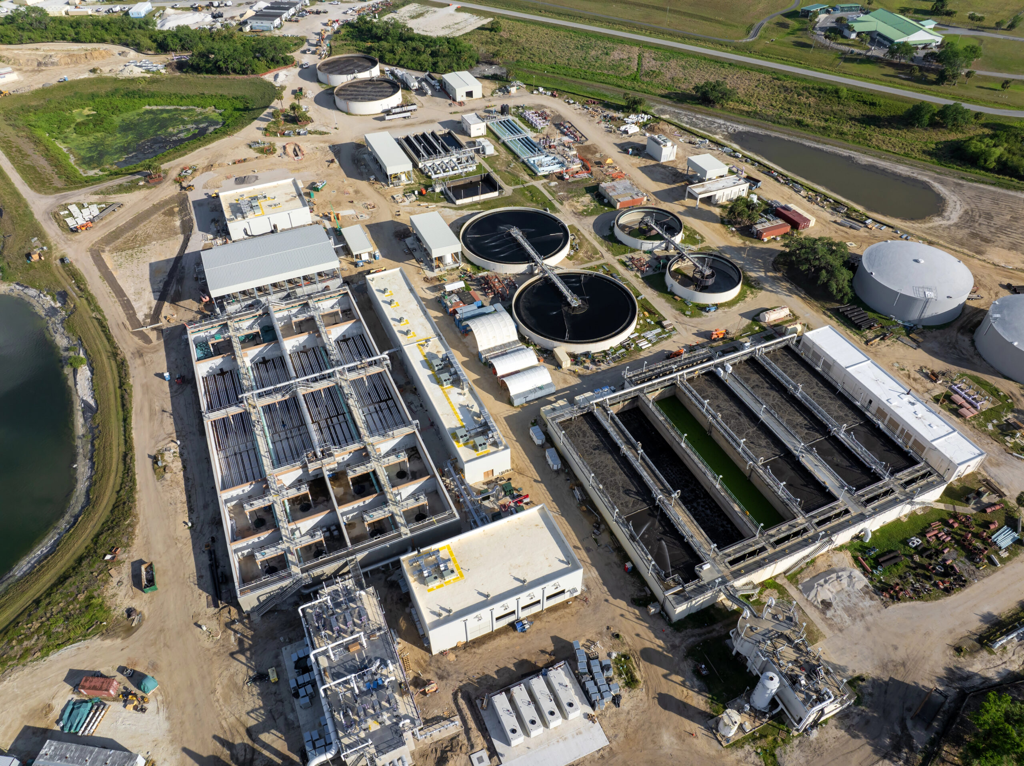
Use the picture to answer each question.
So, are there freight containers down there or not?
Yes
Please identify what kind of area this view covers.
industrial area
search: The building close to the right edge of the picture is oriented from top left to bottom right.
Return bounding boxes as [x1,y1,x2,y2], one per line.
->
[800,325,987,479]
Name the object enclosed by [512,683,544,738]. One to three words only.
storage tank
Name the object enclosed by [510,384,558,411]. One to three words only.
shipping container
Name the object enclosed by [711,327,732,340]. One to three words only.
vehicle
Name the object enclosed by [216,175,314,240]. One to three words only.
building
